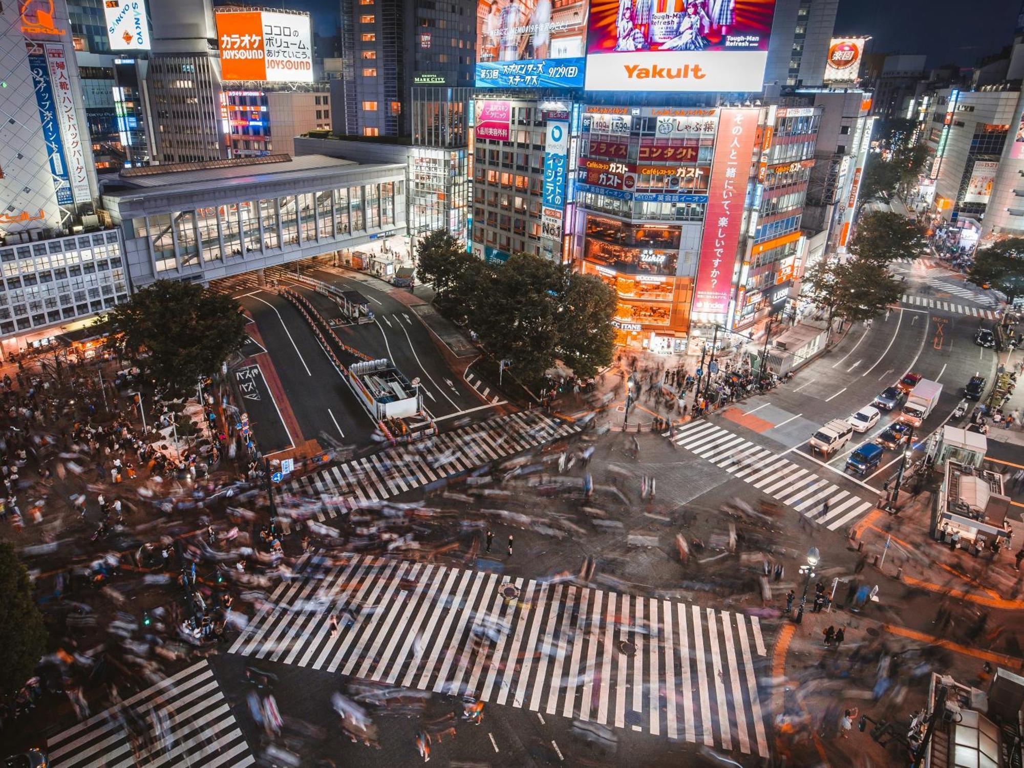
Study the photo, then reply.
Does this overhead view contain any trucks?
Yes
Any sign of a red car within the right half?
Yes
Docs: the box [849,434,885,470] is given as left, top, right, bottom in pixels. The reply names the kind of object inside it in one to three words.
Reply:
van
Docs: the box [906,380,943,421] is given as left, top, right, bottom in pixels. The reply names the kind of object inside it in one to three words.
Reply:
truck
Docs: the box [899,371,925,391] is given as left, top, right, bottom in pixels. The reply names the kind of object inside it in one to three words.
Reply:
car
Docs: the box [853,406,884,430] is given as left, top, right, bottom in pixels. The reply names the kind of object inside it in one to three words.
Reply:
car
